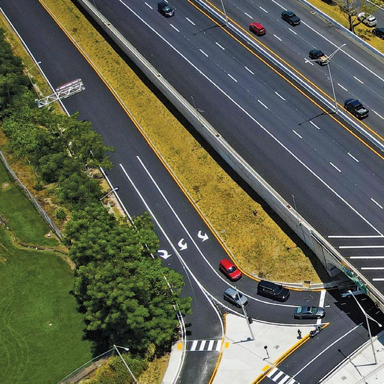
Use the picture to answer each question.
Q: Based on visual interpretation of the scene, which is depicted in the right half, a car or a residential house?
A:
car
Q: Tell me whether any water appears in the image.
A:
No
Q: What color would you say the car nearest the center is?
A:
red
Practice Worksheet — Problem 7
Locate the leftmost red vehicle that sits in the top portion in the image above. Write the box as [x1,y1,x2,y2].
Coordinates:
[248,22,268,37]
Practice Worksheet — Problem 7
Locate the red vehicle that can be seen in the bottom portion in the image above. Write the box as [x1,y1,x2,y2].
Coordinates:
[218,258,245,282]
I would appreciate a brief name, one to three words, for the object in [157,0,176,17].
vehicle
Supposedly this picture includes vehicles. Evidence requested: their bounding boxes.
[339,287,369,301]
[248,22,268,37]
[370,26,384,41]
[357,12,379,26]
[157,0,176,17]
[281,11,300,26]
[344,99,370,119]
[218,258,245,282]
[321,0,338,5]
[307,49,331,66]
[222,289,250,309]
[308,326,321,336]
[294,306,326,321]
[256,278,292,302]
